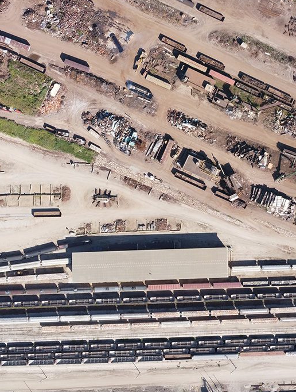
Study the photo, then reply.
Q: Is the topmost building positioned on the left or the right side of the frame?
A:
right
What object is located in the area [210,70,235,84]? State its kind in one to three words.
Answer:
rail car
